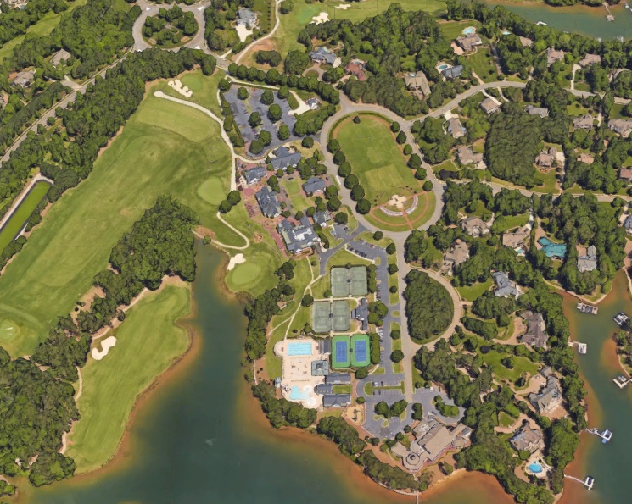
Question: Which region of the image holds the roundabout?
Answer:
top left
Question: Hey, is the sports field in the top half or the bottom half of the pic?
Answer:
top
